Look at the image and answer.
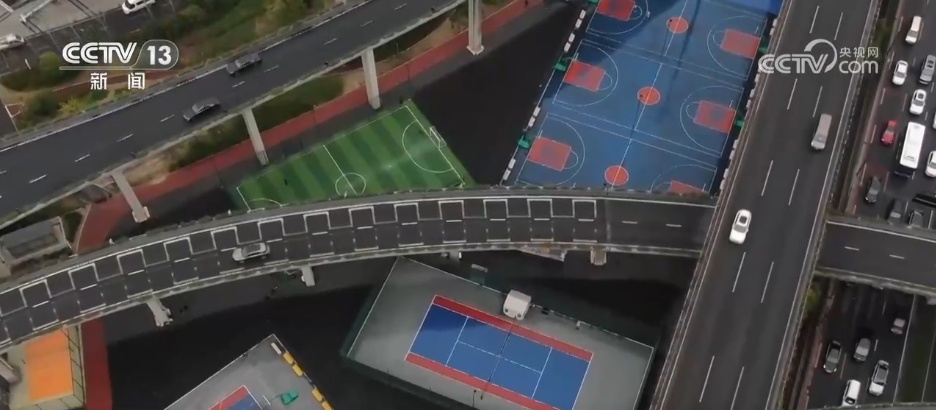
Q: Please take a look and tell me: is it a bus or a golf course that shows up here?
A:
bus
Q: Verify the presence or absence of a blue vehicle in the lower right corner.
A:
No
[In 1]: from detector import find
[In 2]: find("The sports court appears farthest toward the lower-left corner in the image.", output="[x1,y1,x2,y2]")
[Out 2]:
[0,327,82,410]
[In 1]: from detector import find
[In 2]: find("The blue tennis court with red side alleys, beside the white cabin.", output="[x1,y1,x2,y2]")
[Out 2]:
[344,257,652,410]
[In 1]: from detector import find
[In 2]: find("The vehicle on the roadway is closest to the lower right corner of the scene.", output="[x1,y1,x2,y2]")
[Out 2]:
[867,362,888,399]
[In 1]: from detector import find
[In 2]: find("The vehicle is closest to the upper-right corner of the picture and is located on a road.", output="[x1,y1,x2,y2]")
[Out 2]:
[905,21,922,46]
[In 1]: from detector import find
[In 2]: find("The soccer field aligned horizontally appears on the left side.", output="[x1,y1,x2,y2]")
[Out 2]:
[226,99,477,211]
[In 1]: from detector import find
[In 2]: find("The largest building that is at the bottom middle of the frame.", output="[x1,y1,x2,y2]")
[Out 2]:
[503,289,532,318]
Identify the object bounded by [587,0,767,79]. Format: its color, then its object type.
blue basketball court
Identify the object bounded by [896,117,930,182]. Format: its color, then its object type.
white bus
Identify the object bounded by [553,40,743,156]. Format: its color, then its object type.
blue basketball court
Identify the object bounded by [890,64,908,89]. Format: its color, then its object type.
white car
